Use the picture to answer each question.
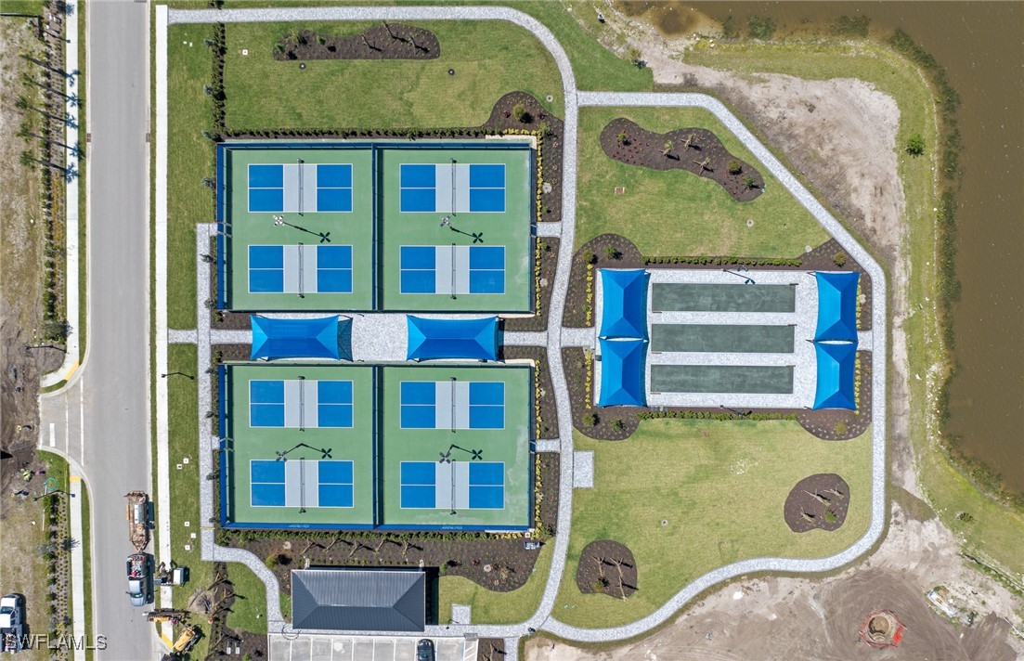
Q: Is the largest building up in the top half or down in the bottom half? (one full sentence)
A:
Seen from above, the largest building lies in the bottom half of the view.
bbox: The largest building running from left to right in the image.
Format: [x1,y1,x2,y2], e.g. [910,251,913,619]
[291,567,426,632]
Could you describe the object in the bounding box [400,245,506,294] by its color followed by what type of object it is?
blue sports court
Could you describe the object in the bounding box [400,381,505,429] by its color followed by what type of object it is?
blue sports court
